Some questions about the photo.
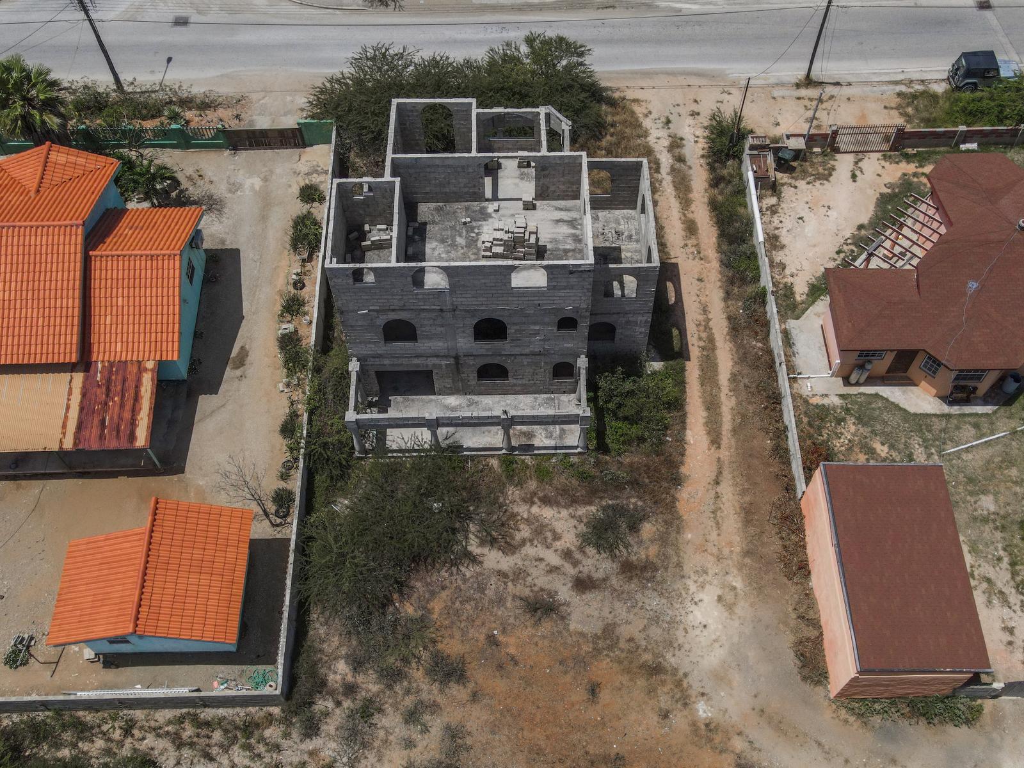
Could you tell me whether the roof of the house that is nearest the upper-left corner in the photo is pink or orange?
orange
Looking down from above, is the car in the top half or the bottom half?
top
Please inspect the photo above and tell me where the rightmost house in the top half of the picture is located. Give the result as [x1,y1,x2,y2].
[819,152,1024,404]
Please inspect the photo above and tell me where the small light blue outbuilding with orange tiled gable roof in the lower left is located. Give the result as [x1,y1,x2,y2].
[44,498,254,654]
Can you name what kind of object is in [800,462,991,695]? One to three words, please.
shed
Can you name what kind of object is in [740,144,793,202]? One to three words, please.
building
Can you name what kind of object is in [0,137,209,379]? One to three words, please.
house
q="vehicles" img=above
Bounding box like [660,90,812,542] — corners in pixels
[946,41,1024,85]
